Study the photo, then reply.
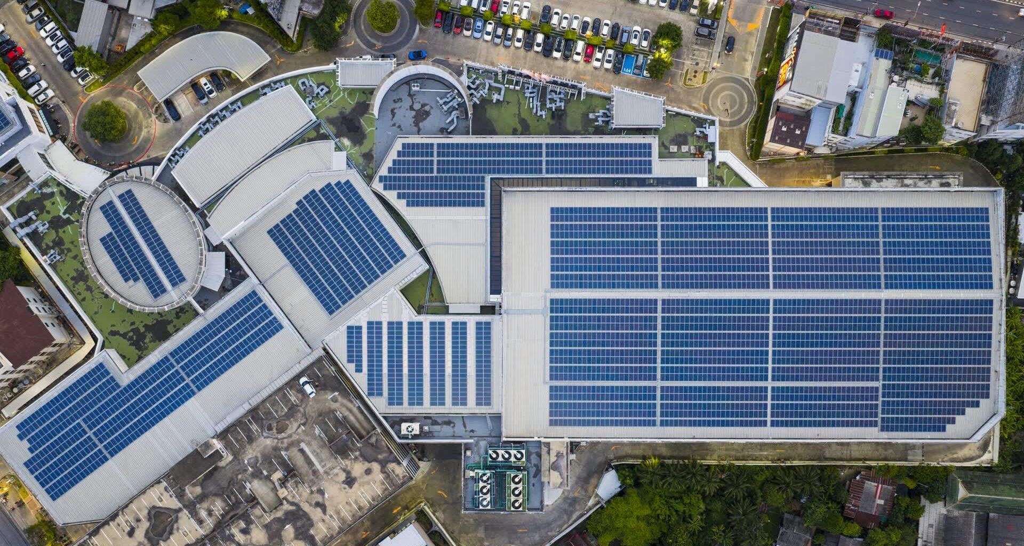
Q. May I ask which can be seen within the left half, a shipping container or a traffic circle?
traffic circle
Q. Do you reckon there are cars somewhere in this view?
Yes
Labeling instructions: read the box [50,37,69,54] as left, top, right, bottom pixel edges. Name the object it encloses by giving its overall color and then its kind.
white vehicle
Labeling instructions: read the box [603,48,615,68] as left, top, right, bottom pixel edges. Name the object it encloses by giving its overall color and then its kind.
white vehicle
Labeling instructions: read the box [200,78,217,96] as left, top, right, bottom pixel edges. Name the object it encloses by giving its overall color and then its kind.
white car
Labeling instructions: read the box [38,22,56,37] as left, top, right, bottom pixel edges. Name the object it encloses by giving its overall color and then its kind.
white car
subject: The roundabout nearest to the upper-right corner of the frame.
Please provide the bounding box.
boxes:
[703,76,754,127]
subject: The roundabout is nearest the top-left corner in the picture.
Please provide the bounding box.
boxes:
[74,85,154,160]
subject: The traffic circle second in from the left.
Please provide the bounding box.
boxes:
[355,0,416,51]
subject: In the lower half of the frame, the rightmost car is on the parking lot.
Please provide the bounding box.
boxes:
[299,376,317,398]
